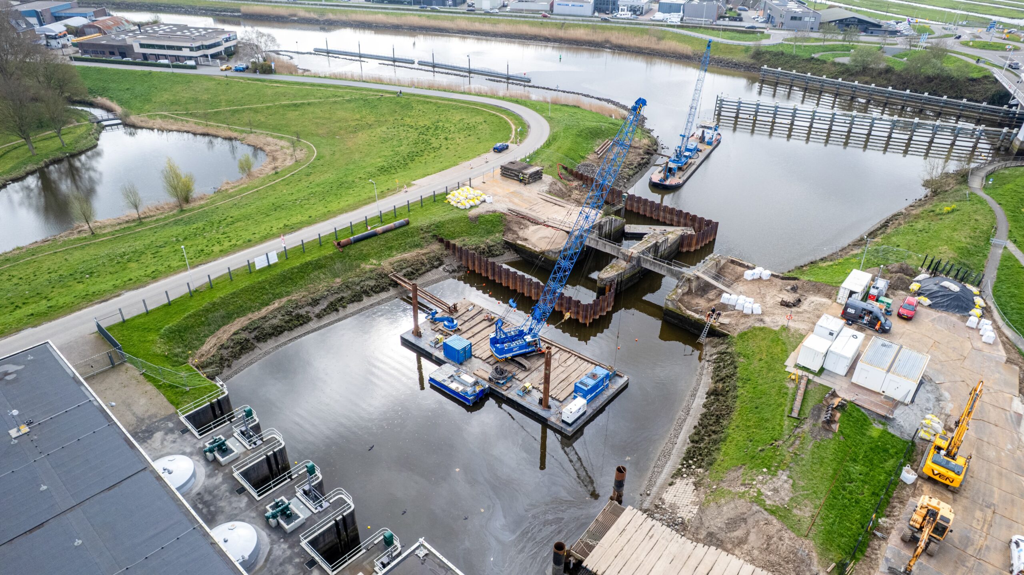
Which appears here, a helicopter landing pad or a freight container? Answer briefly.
freight container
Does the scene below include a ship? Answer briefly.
Yes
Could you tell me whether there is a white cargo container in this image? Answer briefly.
Yes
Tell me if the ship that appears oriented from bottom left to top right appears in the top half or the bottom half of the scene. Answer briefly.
top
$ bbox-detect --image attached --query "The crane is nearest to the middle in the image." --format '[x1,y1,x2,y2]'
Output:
[483,95,654,370]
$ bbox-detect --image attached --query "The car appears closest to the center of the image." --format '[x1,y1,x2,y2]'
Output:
[491,139,511,151]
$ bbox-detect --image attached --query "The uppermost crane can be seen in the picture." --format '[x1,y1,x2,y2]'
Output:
[665,37,712,162]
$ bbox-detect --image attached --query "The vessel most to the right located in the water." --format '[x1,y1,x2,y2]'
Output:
[648,113,731,191]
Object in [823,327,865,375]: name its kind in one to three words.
shipping container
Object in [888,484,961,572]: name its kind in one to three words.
work vehicle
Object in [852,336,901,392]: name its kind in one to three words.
building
